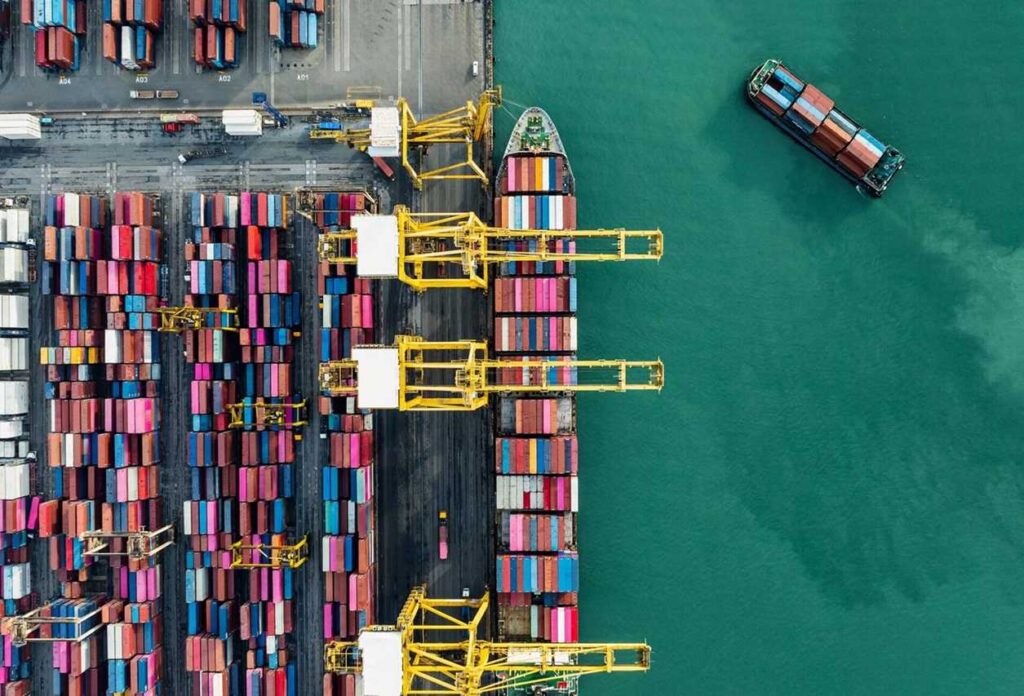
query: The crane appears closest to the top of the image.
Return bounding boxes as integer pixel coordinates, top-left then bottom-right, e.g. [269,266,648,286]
[310,81,503,193]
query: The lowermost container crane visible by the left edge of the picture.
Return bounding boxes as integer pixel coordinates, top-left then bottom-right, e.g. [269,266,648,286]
[0,599,108,643]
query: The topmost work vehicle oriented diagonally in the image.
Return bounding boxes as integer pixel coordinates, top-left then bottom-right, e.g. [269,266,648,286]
[253,86,287,127]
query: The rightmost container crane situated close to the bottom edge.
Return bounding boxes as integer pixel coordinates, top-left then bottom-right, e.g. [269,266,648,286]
[317,582,653,696]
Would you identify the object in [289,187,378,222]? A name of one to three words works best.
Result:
container crane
